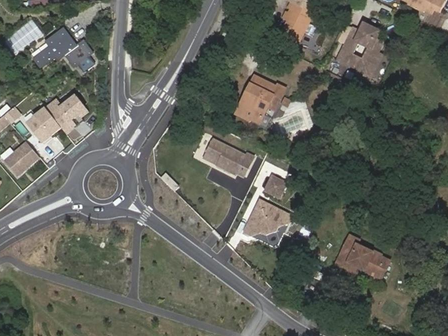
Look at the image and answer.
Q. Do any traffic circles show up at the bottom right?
No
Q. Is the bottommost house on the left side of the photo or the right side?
right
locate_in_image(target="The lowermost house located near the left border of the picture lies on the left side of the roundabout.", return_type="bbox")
[2,142,40,178]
